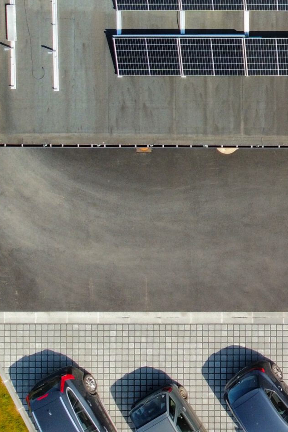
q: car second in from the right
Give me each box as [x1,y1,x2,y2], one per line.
[129,383,205,432]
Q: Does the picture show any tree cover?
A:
No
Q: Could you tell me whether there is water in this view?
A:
No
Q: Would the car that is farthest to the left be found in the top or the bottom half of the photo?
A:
bottom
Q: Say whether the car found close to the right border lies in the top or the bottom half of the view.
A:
bottom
